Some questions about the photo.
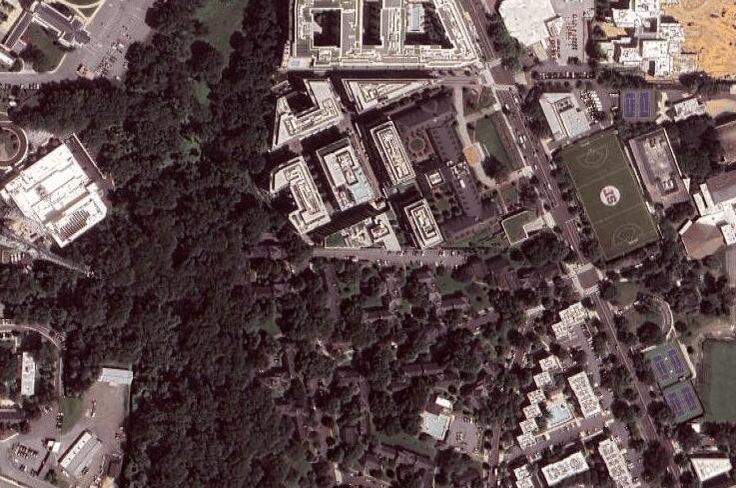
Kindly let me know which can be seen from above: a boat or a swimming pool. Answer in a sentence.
The image shows a swimming pool.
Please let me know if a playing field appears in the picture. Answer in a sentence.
Yes, the photo shows a playing field.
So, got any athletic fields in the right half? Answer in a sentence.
Yes, you'll find an athletic field in the right half.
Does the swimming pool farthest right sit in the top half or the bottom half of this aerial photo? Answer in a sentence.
The swimming pool farthest right is in the bottom half of the image.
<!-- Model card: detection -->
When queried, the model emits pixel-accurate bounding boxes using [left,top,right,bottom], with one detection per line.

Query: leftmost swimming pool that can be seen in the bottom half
[420,412,450,440]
